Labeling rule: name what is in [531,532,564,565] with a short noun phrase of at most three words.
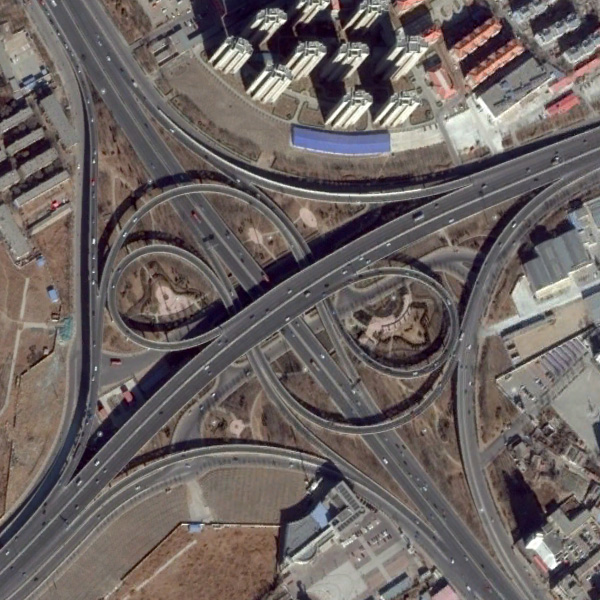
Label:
building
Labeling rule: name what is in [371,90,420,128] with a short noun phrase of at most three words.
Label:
building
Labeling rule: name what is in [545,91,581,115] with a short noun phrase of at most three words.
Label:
shed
